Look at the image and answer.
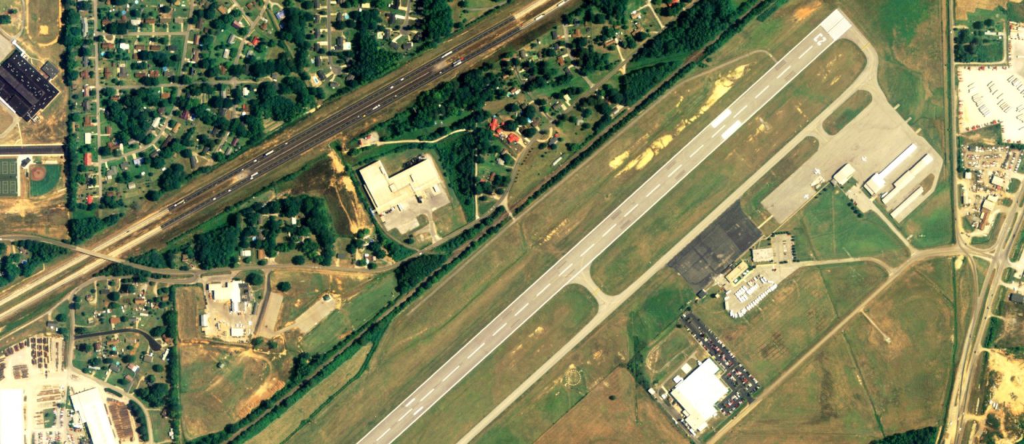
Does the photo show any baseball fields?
Yes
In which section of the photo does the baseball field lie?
left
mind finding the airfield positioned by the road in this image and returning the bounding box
[357,9,943,444]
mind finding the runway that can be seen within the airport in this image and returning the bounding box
[357,9,852,444]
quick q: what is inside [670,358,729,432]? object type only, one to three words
building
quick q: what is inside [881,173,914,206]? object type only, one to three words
hangar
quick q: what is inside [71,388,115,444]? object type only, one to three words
building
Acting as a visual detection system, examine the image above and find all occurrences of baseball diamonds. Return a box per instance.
[29,164,61,198]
